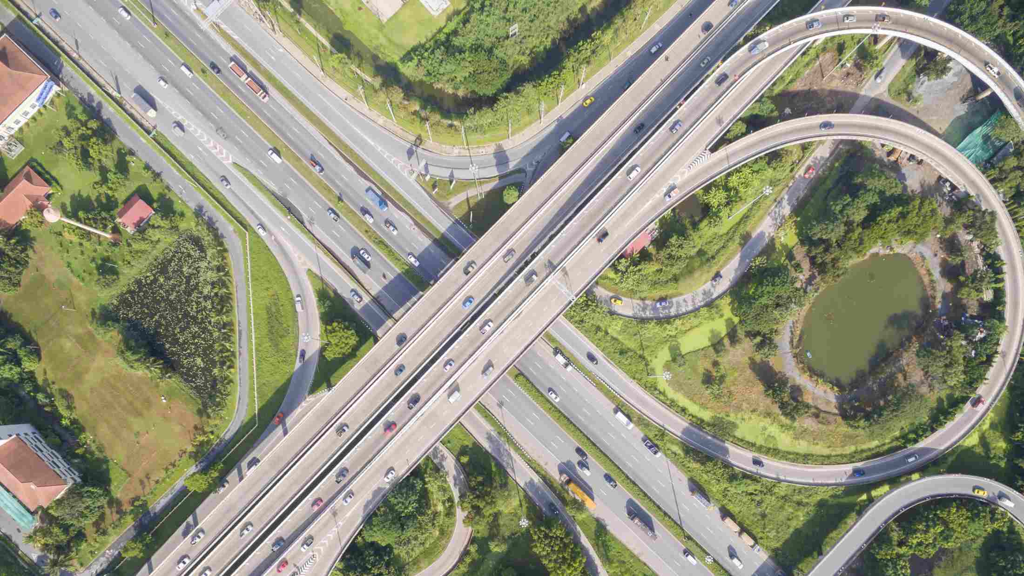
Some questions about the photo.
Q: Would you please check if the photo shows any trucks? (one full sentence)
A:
Yes, there is a truck in the image.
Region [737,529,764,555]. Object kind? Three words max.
truck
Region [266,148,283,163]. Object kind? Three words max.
vehicle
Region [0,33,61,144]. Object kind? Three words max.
building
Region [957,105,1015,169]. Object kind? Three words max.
shed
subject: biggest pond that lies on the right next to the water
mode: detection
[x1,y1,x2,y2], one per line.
[801,252,926,385]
